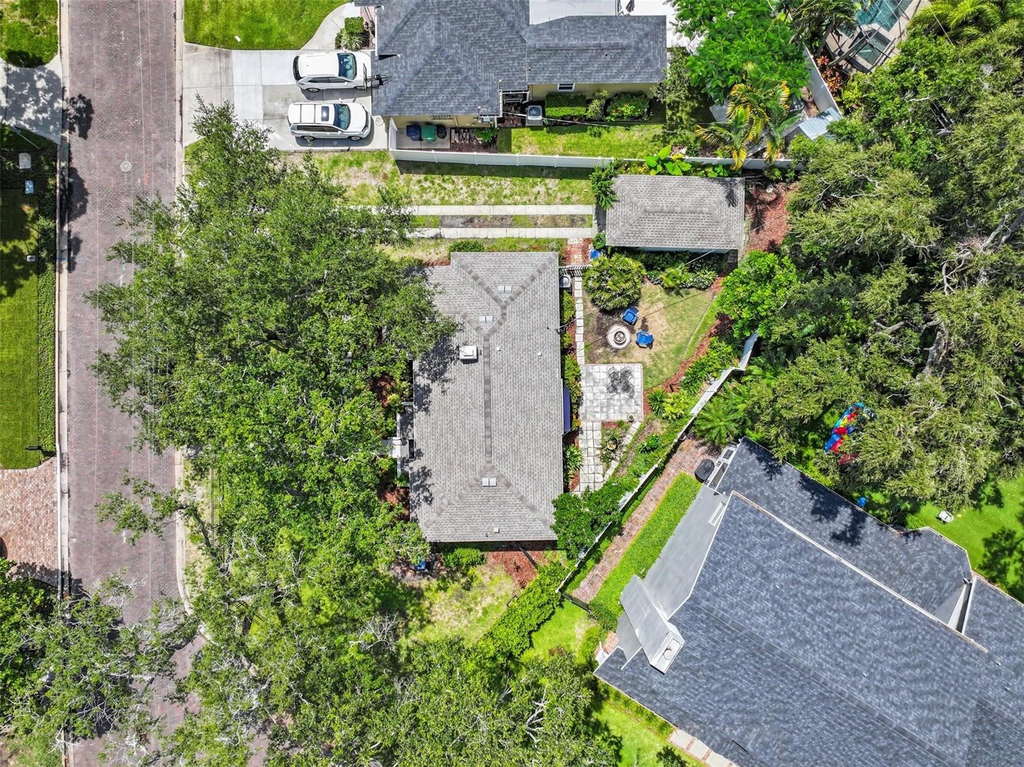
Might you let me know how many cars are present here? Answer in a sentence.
The number of cars here is 2.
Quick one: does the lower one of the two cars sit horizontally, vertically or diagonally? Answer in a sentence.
In this picture, the lower one of the two cars is oriented horizontally.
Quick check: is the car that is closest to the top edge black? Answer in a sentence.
No, the color of the car that is closest to the top edge is white.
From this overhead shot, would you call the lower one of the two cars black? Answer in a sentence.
No, the lower one of the two cars is white.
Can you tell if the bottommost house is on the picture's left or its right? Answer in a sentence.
It is on the right.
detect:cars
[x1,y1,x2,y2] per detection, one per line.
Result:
[293,50,371,91]
[286,99,371,141]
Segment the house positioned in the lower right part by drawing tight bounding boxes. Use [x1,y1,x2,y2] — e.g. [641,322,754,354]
[593,438,1024,767]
